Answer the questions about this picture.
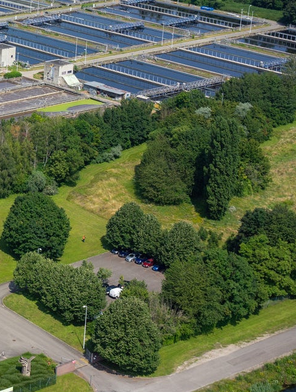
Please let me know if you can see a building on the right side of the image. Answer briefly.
No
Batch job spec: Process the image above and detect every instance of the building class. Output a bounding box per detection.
[0,42,17,64]
[85,82,127,96]
[46,58,82,84]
